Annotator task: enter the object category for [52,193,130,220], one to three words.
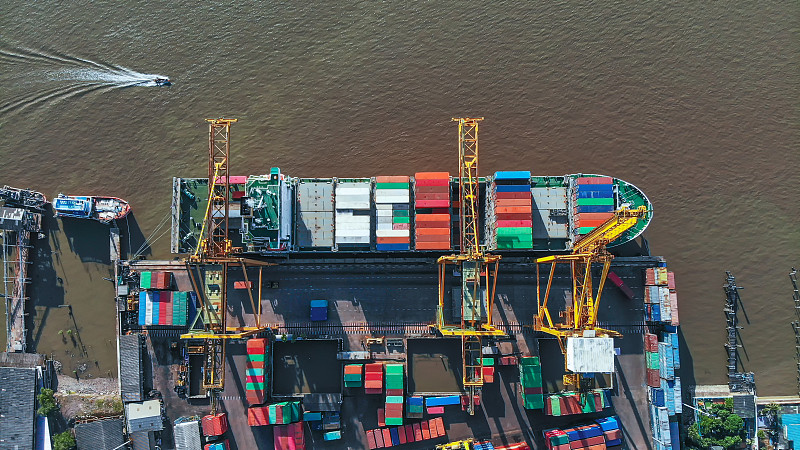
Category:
boat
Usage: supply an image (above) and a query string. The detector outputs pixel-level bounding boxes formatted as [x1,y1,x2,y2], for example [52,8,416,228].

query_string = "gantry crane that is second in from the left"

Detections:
[428,114,508,417]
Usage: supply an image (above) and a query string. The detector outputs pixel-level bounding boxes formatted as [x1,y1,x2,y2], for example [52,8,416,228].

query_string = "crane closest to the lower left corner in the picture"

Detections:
[181,114,279,417]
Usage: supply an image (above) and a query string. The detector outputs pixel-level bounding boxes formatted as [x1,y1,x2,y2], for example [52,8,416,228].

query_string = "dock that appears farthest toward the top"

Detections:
[109,228,123,259]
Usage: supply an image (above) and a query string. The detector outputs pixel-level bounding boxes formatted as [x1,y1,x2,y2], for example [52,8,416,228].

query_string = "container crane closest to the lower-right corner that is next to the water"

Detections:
[521,212,657,388]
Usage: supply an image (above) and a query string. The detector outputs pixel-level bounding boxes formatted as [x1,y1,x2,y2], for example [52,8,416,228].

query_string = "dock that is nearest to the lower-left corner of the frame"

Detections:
[1,232,30,352]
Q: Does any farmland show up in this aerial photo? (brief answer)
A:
No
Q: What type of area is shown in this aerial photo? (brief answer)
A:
port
